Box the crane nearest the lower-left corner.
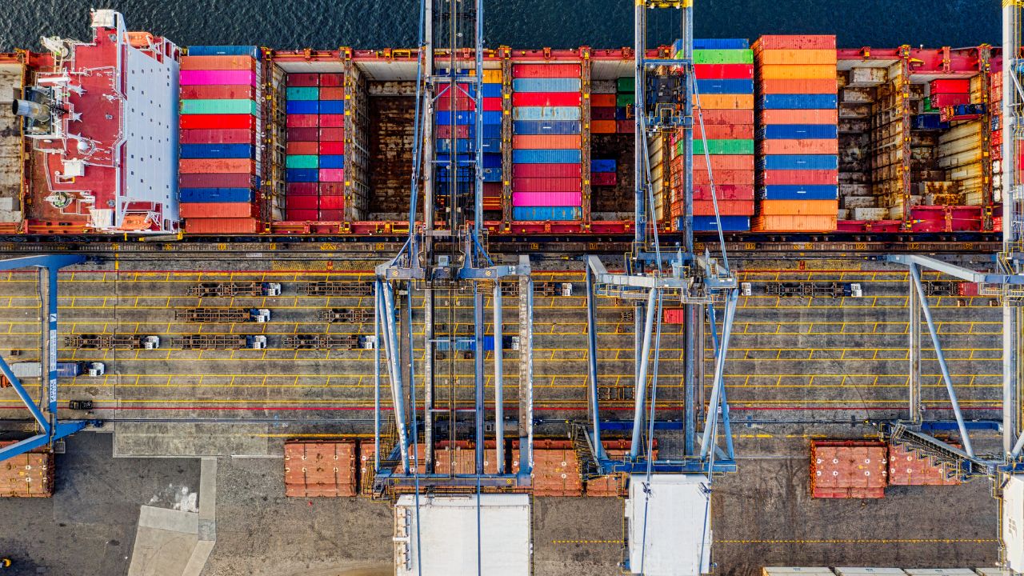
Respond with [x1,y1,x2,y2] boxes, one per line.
[0,254,105,464]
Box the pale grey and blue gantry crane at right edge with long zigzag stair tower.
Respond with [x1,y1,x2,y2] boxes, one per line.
[863,0,1024,573]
